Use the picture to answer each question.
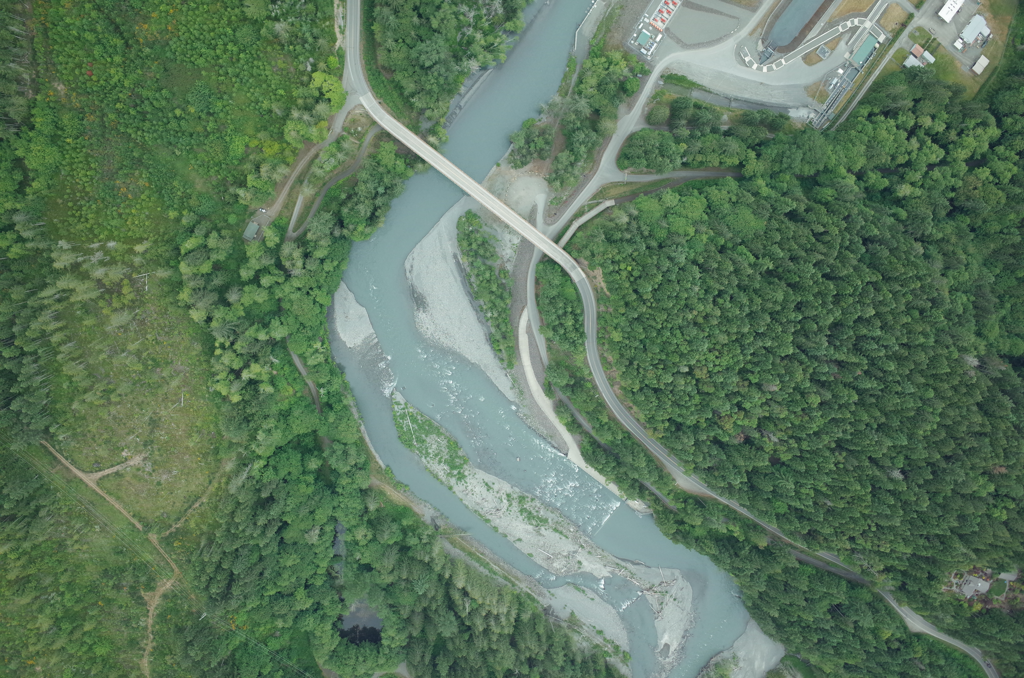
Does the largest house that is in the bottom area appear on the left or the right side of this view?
right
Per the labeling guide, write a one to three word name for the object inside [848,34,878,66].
building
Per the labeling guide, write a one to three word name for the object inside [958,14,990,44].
barn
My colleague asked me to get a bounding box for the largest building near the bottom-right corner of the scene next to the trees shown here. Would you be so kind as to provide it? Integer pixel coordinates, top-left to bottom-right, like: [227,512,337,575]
[959,574,990,596]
